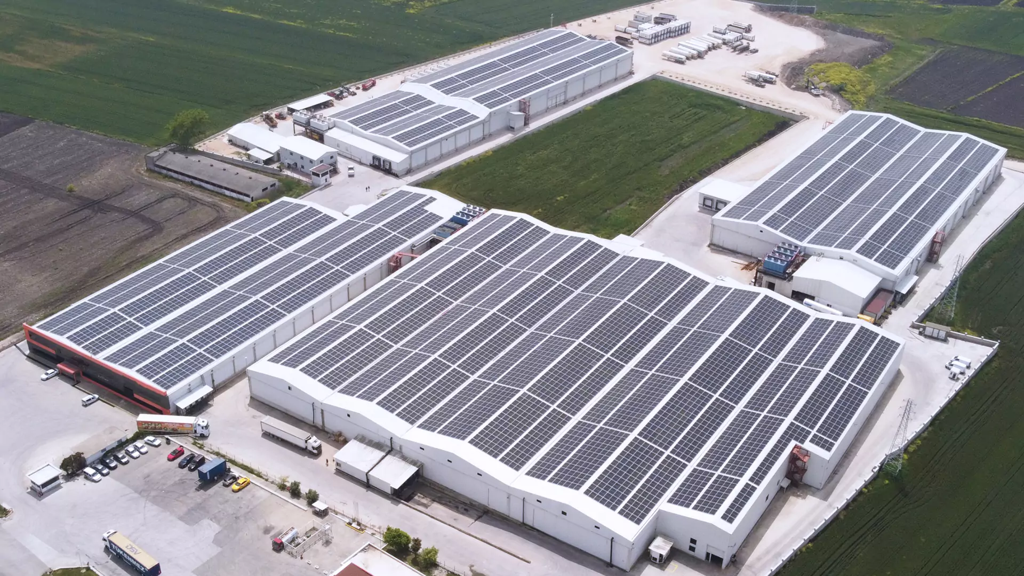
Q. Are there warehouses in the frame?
Yes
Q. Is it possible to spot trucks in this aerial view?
Yes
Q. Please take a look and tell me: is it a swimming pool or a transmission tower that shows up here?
transmission tower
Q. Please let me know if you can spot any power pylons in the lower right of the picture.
Yes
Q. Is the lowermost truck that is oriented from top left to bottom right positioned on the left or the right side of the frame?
left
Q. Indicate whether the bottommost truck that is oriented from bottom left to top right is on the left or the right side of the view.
left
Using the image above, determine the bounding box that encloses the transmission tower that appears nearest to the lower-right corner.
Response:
[882,398,920,475]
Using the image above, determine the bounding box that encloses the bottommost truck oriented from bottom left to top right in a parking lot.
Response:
[269,515,301,553]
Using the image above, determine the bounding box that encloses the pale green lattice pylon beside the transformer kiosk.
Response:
[936,256,967,321]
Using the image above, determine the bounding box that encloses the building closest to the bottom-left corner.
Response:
[24,459,61,491]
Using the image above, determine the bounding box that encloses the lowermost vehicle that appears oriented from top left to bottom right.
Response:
[97,528,163,576]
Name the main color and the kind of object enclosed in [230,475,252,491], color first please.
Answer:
yellow car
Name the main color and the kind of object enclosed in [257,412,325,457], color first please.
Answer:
white truck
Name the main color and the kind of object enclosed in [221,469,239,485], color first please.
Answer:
gray car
